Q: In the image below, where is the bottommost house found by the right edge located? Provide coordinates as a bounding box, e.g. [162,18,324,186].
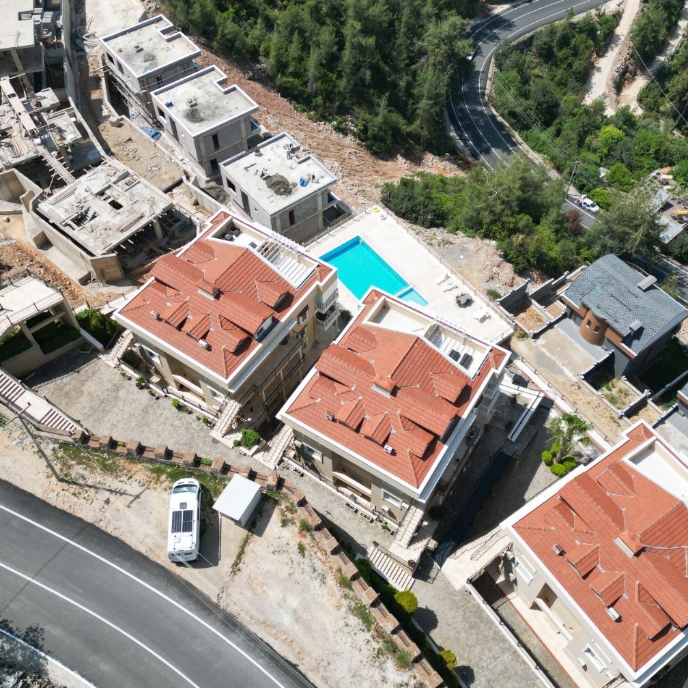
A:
[493,419,688,688]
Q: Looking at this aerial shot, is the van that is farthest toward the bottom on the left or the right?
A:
left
